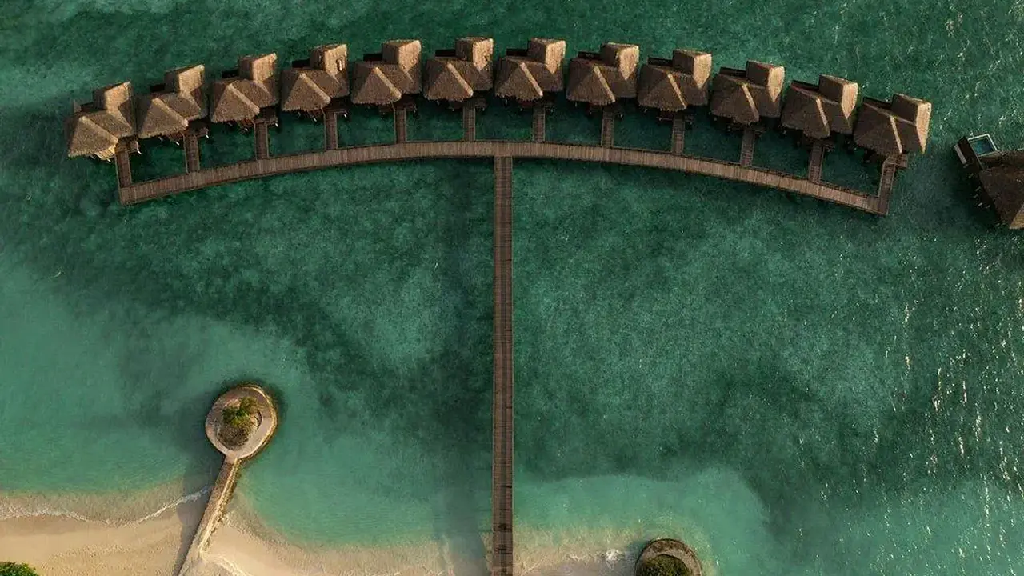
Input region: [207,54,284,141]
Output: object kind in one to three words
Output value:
house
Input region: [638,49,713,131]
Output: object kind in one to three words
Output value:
house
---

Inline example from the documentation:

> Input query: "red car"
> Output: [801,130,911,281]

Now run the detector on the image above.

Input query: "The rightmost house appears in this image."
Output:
[842,93,933,172]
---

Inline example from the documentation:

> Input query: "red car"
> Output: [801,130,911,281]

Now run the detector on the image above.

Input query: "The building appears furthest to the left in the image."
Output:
[63,82,150,169]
